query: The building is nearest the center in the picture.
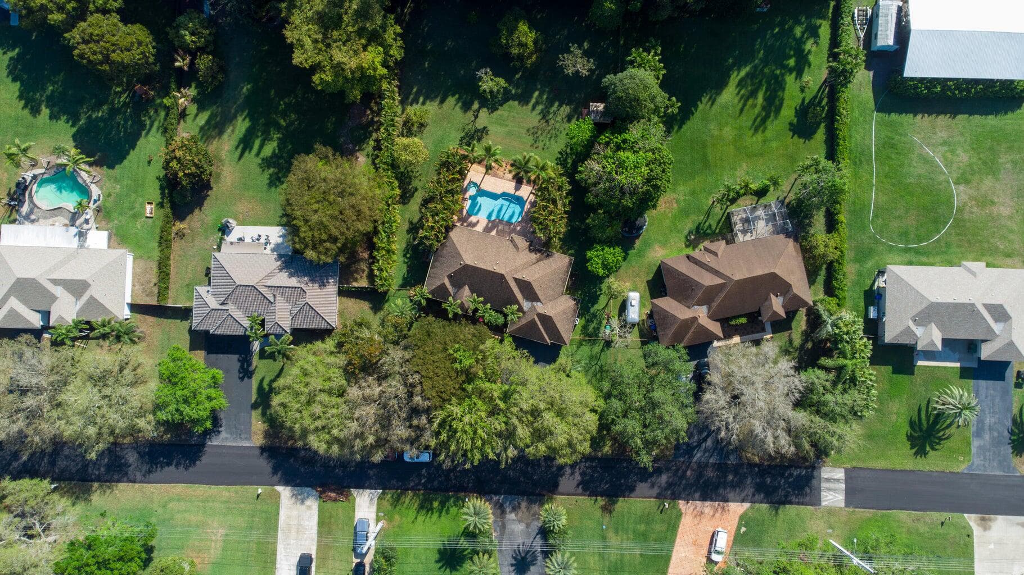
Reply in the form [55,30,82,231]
[423,220,581,345]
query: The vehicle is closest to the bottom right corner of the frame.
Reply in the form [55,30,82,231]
[710,528,727,561]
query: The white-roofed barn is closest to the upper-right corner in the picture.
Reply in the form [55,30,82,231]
[897,0,1024,78]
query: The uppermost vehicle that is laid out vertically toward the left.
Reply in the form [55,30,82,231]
[354,516,371,553]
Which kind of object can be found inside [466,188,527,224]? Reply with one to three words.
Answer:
swimming pool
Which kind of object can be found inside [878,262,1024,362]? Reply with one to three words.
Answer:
house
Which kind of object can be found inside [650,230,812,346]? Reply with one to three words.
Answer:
house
